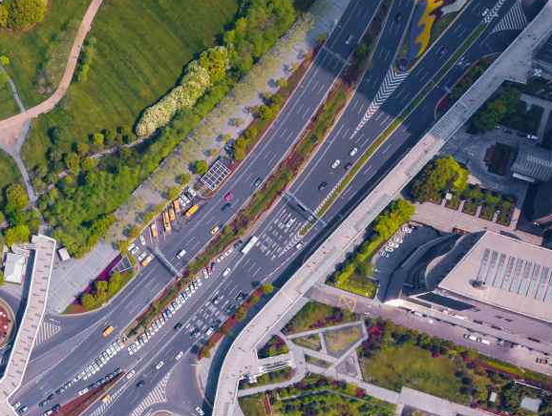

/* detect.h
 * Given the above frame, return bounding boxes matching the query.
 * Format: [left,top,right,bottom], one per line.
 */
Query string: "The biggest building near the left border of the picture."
[4,244,31,284]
